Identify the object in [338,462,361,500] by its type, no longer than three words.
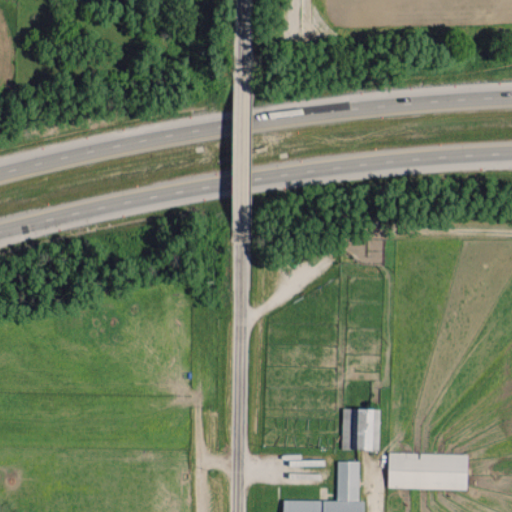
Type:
barn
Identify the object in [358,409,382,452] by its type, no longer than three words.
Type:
barn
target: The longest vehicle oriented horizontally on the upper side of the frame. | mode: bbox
[256,109,305,121]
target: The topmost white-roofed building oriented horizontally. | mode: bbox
[388,454,469,492]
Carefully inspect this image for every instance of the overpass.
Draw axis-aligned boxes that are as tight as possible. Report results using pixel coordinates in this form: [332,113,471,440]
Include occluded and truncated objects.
[232,72,253,240]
